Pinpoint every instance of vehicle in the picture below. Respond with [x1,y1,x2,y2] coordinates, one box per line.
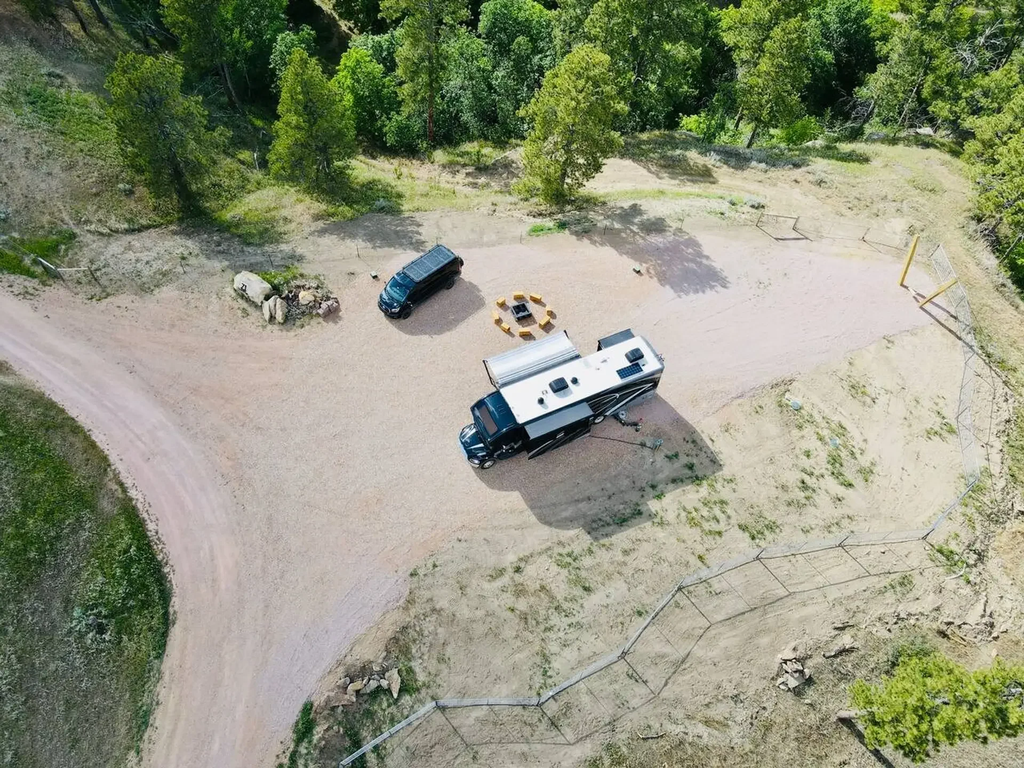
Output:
[451,327,663,470]
[372,236,465,318]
